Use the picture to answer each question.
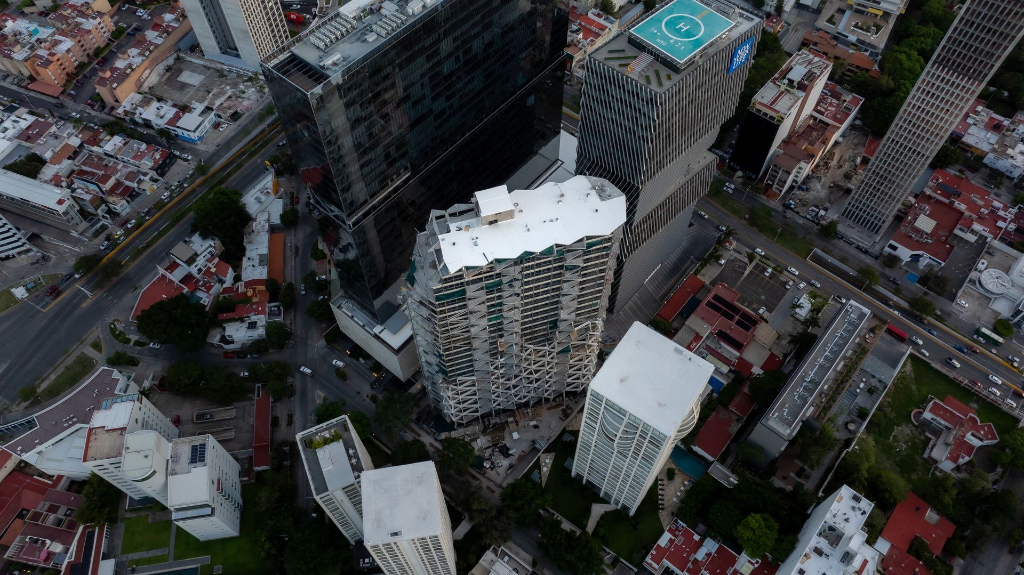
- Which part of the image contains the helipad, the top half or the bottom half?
top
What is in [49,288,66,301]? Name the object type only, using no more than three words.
vehicle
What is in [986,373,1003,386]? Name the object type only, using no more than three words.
vehicle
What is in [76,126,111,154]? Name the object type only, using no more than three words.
house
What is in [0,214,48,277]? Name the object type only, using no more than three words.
building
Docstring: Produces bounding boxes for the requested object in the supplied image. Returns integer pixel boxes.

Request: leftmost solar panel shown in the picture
[71,529,97,575]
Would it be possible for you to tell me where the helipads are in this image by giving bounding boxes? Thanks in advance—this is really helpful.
[616,0,746,77]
